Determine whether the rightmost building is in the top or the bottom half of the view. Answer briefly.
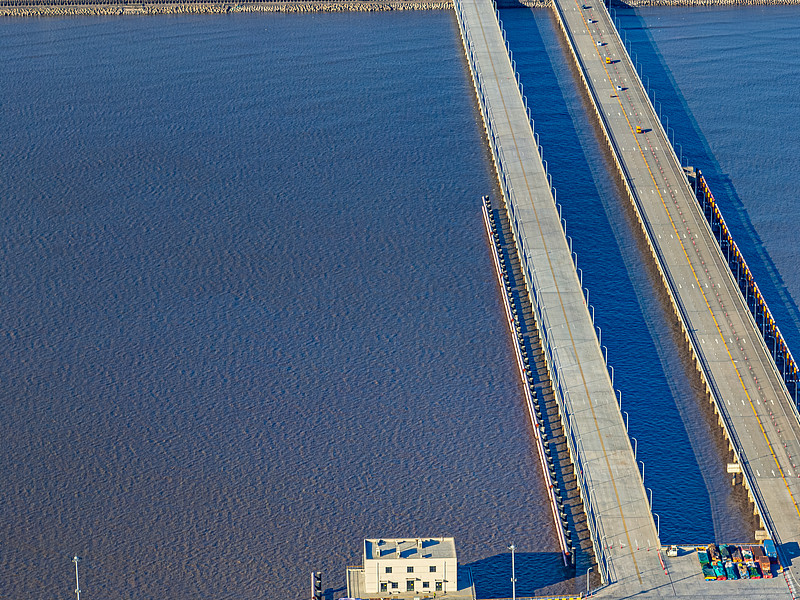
bottom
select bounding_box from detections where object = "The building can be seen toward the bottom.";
[364,537,459,594]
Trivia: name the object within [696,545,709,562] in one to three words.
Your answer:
vehicle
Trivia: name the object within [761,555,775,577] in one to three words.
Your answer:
vehicle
